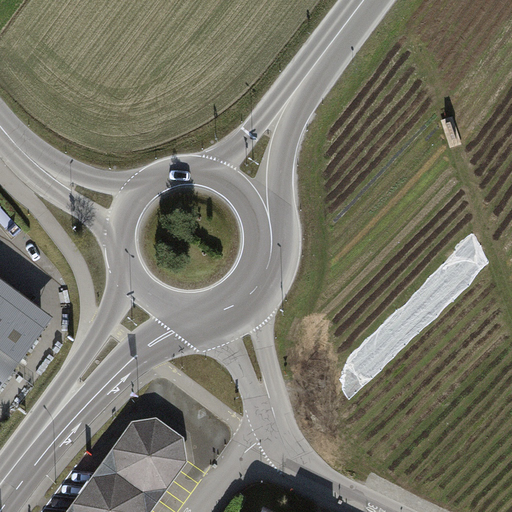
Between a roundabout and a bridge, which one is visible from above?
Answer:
roundabout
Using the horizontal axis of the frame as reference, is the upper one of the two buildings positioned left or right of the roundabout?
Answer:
to the left of it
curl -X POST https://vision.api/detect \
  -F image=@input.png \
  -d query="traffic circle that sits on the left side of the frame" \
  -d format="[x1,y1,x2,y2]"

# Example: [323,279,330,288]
[108,158,270,320]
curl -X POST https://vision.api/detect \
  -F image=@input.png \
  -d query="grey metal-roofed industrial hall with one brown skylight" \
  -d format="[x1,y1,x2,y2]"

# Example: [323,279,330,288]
[0,278,52,388]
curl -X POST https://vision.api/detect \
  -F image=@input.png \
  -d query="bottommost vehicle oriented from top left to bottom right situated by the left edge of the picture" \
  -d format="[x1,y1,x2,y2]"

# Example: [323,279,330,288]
[25,241,42,262]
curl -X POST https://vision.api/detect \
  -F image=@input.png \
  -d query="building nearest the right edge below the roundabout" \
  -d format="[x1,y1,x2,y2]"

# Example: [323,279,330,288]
[72,418,187,512]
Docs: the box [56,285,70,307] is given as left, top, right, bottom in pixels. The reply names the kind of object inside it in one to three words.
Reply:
vehicle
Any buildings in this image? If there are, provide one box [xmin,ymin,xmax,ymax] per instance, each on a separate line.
[0,278,52,388]
[72,418,187,512]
